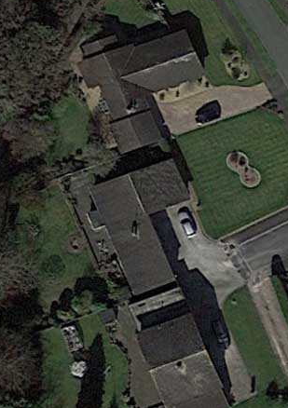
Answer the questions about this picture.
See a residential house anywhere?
Yes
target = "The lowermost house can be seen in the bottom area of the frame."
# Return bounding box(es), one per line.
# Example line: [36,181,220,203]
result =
[136,313,230,408]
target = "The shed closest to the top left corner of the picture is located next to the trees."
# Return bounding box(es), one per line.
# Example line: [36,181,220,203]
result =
[81,33,119,56]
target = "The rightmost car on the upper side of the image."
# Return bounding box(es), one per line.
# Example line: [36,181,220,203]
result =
[195,102,223,121]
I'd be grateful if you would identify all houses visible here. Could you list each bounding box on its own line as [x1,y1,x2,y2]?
[91,159,191,296]
[136,313,230,408]
[78,28,203,155]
